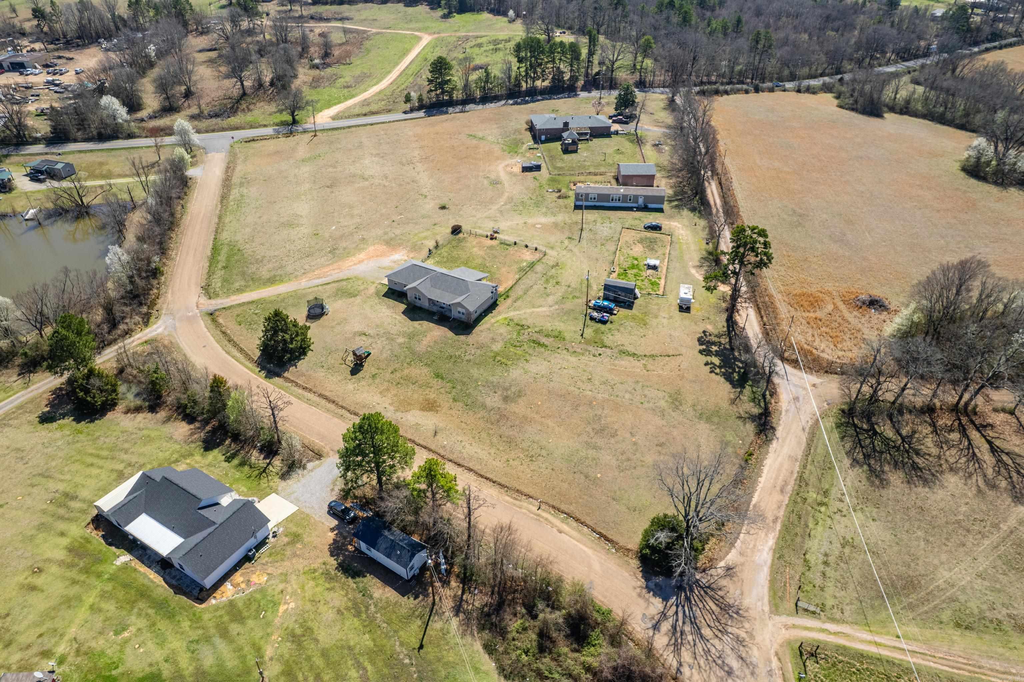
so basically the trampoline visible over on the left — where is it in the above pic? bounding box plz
[304,297,330,316]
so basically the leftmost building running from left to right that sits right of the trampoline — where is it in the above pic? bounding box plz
[385,256,500,324]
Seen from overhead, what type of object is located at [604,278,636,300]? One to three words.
shed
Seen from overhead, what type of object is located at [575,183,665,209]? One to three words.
house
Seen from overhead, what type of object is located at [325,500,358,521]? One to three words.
car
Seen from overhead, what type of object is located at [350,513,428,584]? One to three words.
building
